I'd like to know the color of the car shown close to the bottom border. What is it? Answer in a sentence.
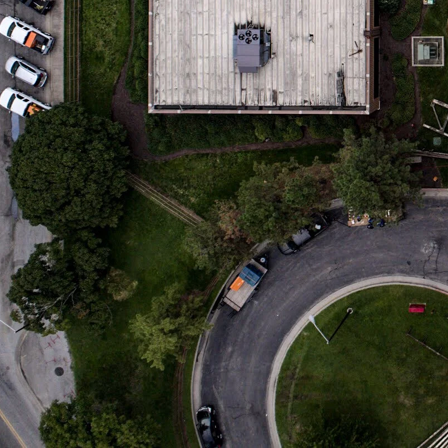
From above, the car shown close to the bottom border appears black.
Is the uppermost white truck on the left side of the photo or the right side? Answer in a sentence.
The uppermost white truck appears in the left half of the scene.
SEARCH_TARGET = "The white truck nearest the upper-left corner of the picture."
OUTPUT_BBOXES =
[0,14,59,55]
